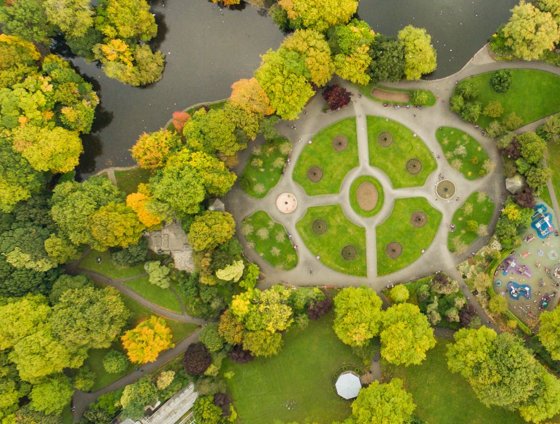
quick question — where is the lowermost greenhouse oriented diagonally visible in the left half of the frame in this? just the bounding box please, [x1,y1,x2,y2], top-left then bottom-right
[144,382,199,424]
